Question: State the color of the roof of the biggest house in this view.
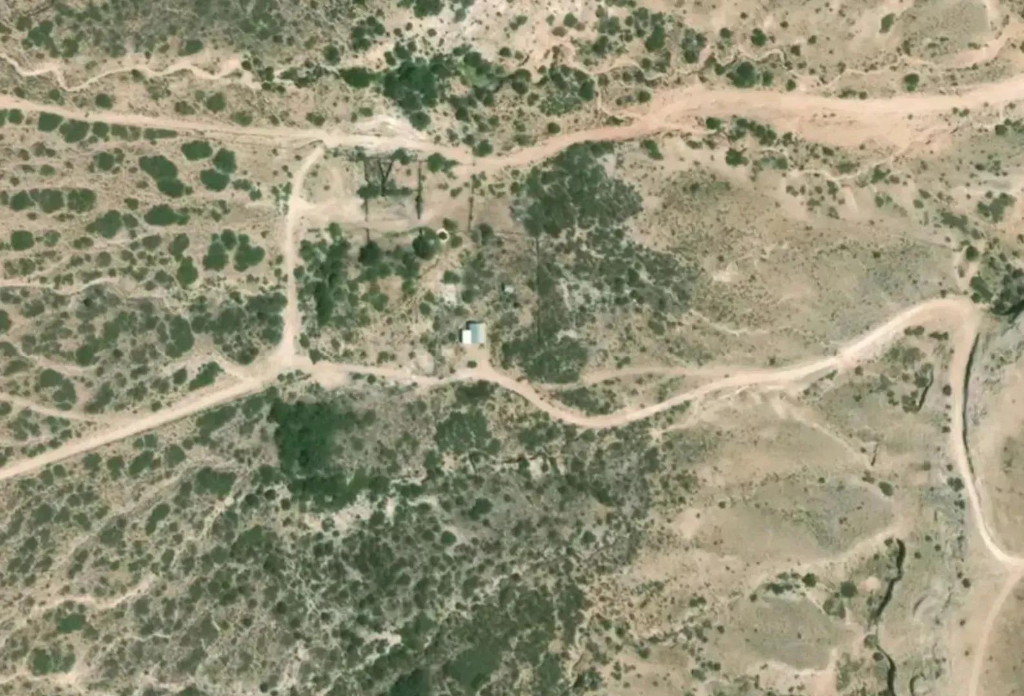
white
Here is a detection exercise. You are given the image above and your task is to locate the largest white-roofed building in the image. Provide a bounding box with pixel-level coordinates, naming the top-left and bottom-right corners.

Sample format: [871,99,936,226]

[462,323,486,344]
